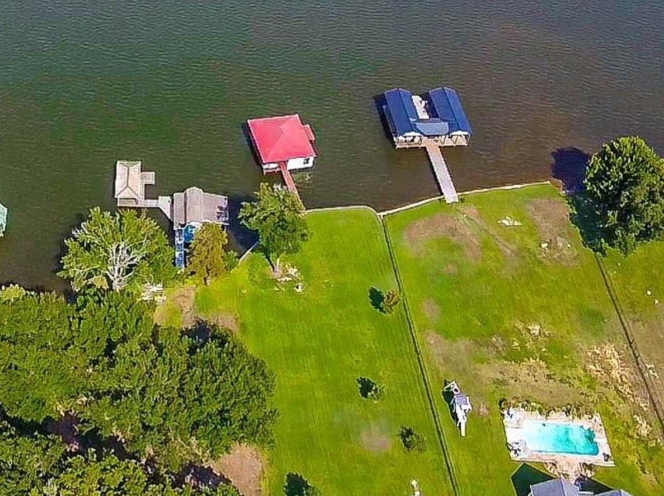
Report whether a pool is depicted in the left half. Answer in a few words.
No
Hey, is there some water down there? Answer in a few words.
Yes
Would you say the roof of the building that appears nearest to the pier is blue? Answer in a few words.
Yes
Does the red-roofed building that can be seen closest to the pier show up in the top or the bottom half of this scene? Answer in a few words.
top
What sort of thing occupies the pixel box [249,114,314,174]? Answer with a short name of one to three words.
building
